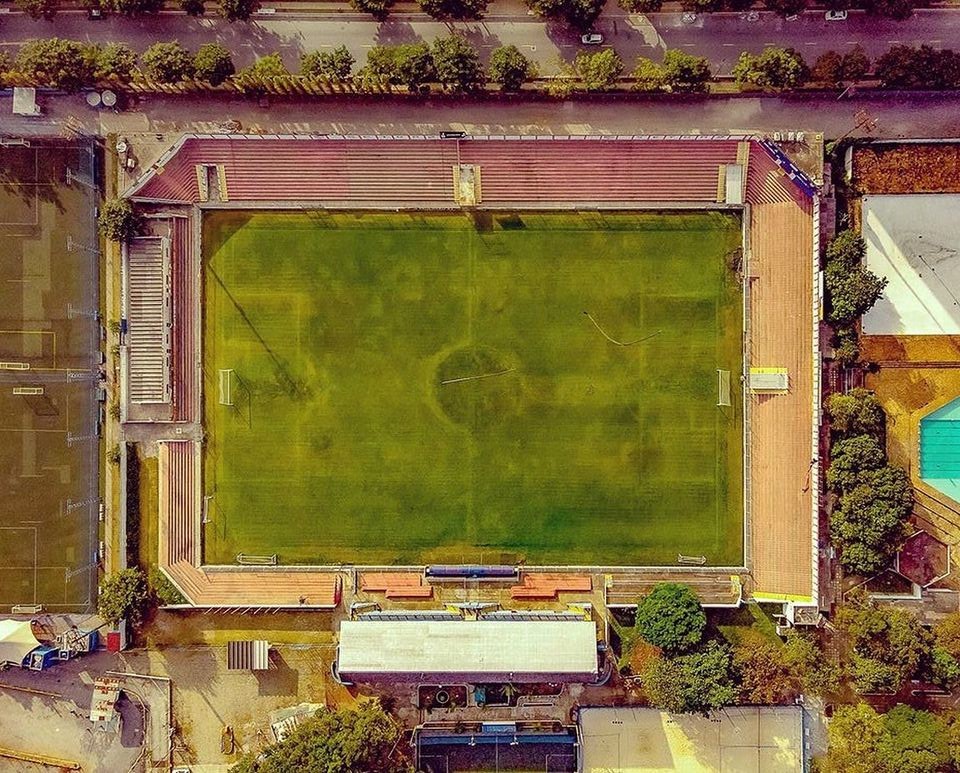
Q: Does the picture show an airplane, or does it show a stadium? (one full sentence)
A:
Visible in the photo is a stadium.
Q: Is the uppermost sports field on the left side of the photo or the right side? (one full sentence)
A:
You can find the uppermost sports field on the left side of the picture.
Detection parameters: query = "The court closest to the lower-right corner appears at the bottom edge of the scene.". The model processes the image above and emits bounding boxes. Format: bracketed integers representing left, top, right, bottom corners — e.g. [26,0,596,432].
[578,705,804,773]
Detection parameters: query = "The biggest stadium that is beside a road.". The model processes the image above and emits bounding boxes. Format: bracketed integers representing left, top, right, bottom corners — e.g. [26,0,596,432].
[124,134,820,614]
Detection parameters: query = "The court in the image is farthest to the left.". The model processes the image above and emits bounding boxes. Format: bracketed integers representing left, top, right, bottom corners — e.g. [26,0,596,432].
[412,721,581,773]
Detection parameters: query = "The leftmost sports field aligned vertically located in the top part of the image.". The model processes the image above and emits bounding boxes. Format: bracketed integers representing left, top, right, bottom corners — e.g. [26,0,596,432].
[0,138,98,370]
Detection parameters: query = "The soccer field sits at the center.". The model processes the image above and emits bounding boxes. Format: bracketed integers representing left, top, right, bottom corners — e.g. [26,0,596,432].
[203,211,742,565]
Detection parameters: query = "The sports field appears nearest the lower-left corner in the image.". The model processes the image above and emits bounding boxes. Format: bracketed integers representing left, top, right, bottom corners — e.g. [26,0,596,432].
[0,366,98,614]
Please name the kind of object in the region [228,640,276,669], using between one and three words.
shed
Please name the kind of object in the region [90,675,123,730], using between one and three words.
trailer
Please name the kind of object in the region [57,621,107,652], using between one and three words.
trailer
